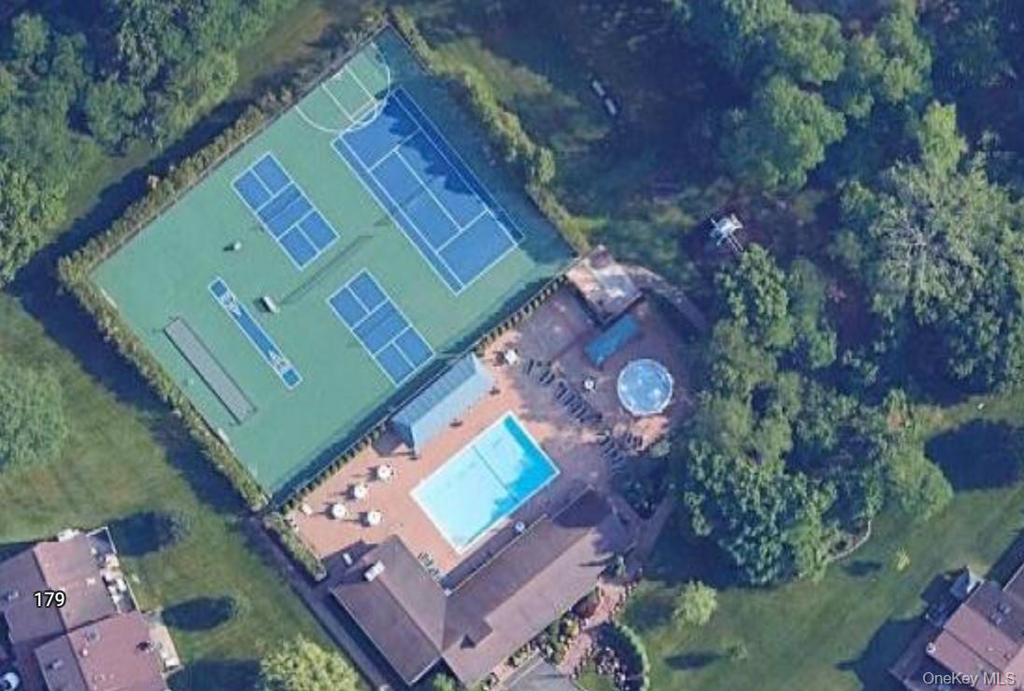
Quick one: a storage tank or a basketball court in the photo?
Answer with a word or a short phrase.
basketball court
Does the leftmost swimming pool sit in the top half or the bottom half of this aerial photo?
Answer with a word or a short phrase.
bottom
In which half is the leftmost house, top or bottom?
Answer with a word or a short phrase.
bottom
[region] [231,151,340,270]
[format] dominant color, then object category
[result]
blue sports court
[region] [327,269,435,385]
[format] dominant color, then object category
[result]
blue sports court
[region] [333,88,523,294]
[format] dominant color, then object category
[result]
blue tennis court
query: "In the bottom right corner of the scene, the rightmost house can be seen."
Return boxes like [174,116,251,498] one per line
[889,563,1024,691]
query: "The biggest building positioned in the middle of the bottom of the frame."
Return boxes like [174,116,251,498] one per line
[330,484,642,690]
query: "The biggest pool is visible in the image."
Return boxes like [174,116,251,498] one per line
[406,407,564,559]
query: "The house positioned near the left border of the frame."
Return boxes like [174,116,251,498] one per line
[0,527,181,691]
